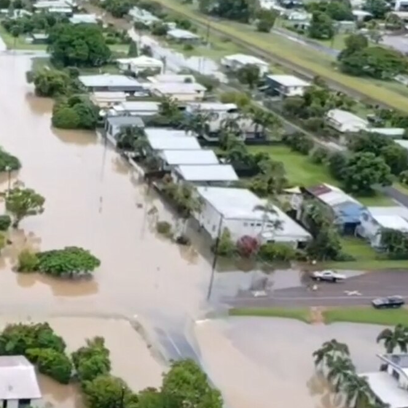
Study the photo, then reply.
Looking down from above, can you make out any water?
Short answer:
Yes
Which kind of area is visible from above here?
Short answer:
residential area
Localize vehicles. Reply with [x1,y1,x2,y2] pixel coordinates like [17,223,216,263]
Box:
[312,269,345,282]
[370,294,407,308]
